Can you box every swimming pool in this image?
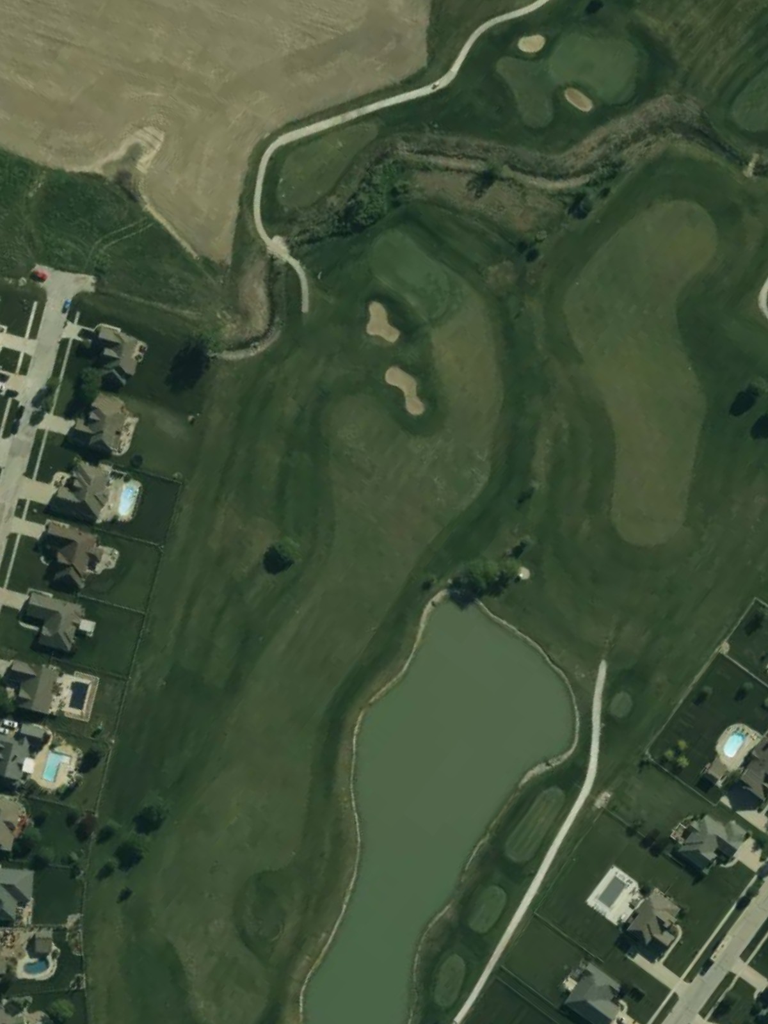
[17,945,60,980]
[587,866,642,925]
[716,723,762,772]
[97,477,142,524]
[49,671,100,722]
[32,745,76,790]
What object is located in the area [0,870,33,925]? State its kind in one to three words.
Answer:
house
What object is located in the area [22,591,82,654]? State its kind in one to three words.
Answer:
house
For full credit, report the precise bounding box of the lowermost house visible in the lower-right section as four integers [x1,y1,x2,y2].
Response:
[563,962,629,1024]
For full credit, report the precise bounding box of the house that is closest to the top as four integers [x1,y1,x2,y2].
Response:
[95,327,140,391]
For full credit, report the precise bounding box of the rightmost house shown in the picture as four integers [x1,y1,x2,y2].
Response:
[731,736,768,807]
